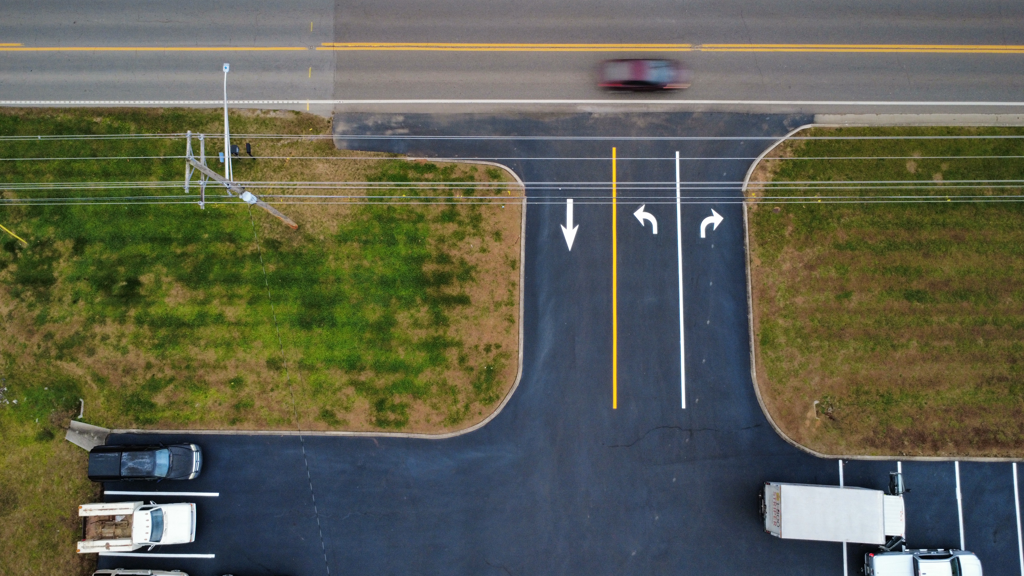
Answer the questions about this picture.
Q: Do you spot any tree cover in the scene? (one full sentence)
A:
No, there is no tree cover in the image.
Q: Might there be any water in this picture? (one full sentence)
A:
No, the picture contains no water.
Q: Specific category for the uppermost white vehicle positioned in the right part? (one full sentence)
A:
What you see as the uppermost white vehicle positioned in the right part is a truck.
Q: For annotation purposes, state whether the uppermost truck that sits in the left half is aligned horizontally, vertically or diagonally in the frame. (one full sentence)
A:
In this picture, the uppermost truck that sits in the left half is oriented horizontally.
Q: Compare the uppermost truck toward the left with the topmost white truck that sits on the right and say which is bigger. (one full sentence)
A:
Of the two, the topmost white truck that sits on the right is bigger, while the uppermost truck toward the left is smaller.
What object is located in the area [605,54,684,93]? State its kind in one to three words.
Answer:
car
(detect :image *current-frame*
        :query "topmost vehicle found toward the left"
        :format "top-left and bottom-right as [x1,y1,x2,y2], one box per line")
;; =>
[88,440,205,487]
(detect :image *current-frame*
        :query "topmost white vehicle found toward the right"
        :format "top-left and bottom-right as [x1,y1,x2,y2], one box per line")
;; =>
[752,472,908,553]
